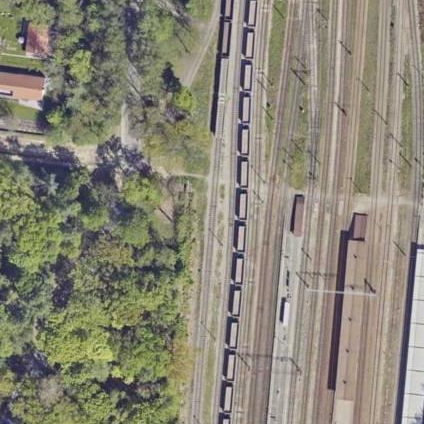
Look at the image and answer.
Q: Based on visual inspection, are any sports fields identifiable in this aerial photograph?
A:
No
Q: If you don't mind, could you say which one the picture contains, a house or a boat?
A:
house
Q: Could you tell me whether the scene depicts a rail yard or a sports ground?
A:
rail yard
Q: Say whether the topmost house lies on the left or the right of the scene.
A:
left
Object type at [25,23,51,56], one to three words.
house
